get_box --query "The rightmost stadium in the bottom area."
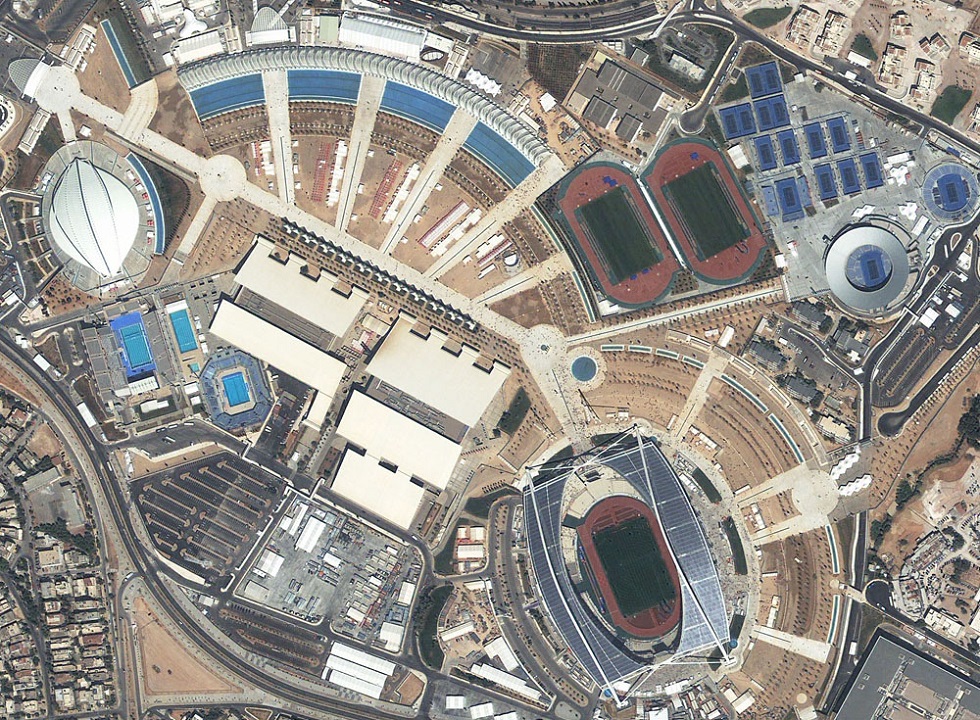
[522,419,734,709]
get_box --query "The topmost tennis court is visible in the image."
[746,60,782,99]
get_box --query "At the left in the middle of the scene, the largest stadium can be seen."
[199,350,273,431]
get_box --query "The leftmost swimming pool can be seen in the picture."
[110,312,155,377]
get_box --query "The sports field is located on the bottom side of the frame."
[590,517,674,618]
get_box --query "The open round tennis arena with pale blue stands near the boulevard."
[922,163,980,221]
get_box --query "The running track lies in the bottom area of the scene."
[580,496,682,640]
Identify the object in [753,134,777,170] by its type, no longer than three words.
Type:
tennis court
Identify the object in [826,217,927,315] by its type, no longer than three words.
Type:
stadium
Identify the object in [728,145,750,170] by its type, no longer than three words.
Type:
building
